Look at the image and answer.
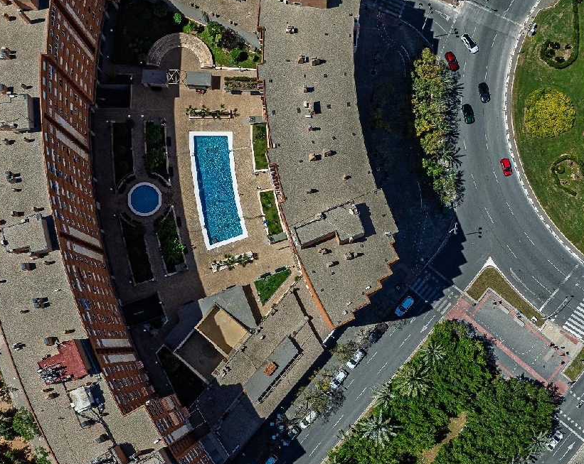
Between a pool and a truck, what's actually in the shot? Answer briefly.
pool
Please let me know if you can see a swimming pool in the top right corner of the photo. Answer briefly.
No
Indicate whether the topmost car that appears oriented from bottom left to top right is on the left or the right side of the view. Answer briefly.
right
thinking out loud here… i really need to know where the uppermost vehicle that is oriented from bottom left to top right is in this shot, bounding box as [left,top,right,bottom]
[396,294,415,316]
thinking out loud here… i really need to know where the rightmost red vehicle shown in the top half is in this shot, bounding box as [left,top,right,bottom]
[501,156,513,177]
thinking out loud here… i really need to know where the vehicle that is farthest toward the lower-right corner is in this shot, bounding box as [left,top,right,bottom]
[547,430,566,453]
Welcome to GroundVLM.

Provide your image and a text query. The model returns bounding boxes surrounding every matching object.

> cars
[501,156,513,177]
[279,424,300,448]
[330,368,349,391]
[346,347,365,370]
[460,30,478,54]
[299,410,319,432]
[462,102,475,123]
[262,454,278,464]
[396,294,415,316]
[443,48,458,72]
[547,430,566,453]
[365,325,382,344]
[478,80,490,103]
